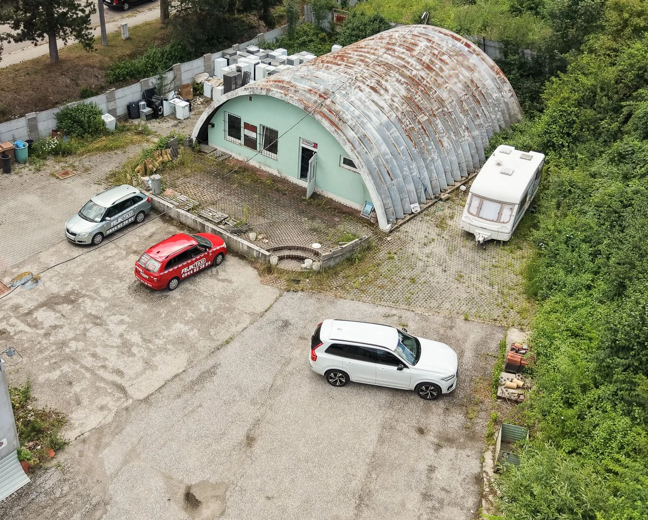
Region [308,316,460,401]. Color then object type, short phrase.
white car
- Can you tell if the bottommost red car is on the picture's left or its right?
left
